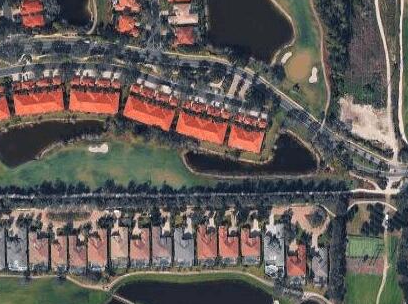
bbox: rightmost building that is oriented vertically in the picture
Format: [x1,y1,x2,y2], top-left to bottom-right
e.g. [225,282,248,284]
[312,247,329,284]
